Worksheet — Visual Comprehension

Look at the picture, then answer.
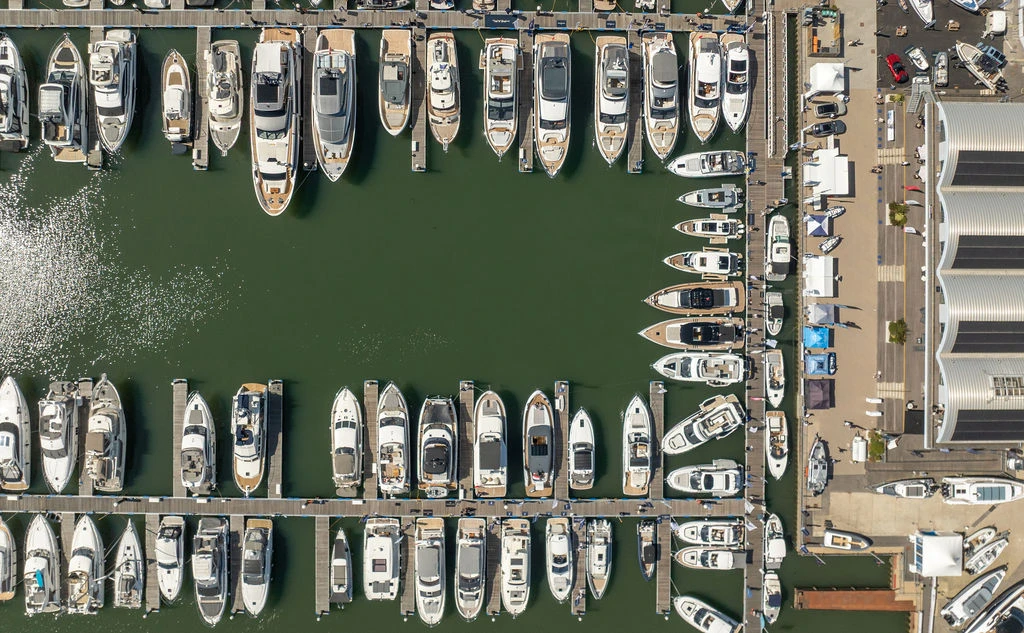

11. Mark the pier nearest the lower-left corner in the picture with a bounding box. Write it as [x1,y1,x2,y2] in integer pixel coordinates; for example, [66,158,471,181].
[61,515,75,601]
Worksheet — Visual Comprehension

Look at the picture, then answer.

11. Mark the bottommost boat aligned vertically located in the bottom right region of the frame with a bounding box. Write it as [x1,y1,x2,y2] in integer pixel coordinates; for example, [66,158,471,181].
[763,571,781,623]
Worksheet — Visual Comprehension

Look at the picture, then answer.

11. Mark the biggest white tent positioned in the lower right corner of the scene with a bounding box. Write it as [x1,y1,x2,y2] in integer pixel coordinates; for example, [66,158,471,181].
[904,527,964,576]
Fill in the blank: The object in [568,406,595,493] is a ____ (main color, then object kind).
white boat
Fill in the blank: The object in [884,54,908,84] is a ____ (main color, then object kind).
red car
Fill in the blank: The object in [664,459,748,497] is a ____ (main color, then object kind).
white boat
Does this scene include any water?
Yes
